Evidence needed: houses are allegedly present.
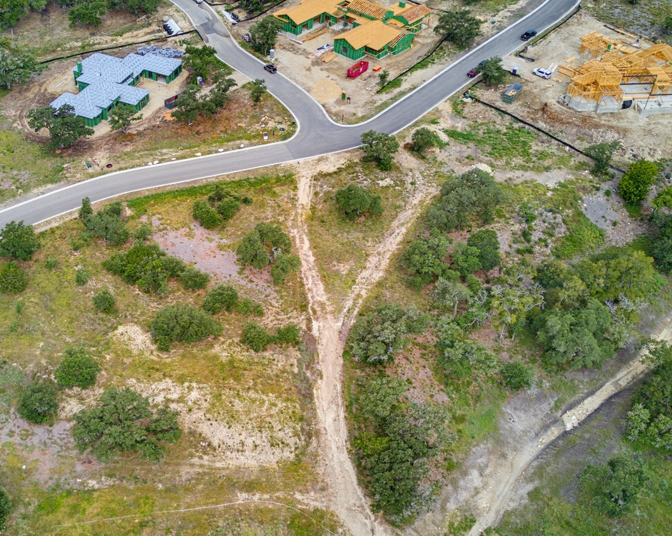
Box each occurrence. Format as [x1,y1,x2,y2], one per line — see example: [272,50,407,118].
[562,38,672,115]
[49,54,183,129]
[266,0,434,61]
